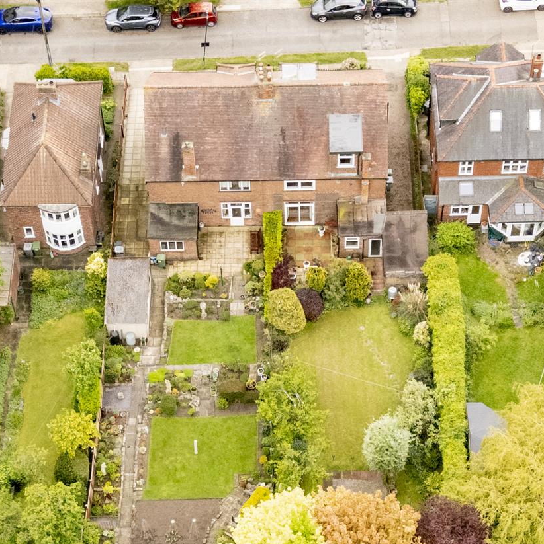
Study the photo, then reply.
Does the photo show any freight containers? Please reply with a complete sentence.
No, I can see no freight container in this picture.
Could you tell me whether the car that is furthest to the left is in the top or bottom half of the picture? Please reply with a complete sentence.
Seen from above, the car that is furthest to the left lies in the top half of the view.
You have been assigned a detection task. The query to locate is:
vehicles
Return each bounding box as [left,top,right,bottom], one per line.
[372,0,417,18]
[0,2,54,32]
[106,0,162,30]
[311,0,369,21]
[499,0,544,13]
[172,0,219,27]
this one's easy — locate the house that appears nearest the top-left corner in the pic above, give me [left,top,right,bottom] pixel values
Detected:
[0,66,109,259]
